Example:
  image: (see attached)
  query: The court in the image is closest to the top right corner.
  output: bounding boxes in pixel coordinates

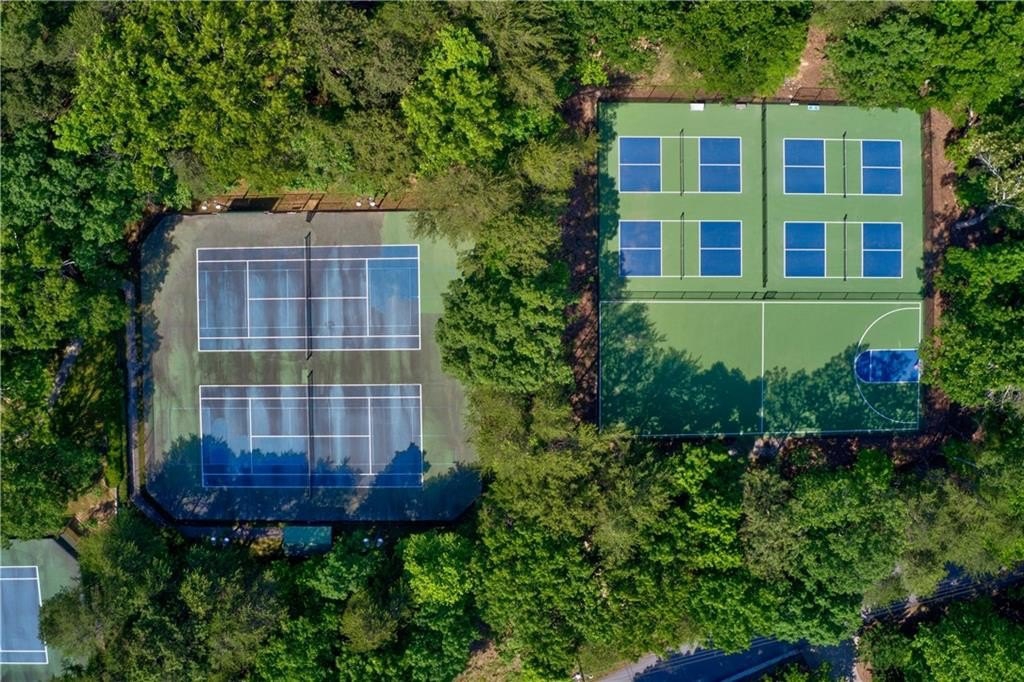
[784,138,901,195]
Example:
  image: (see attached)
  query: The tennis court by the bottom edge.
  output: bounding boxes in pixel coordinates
[0,566,47,664]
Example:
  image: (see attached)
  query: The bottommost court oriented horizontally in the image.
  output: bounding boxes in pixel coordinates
[200,384,423,488]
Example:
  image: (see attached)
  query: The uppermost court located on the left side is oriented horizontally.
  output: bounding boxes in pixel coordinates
[197,245,421,352]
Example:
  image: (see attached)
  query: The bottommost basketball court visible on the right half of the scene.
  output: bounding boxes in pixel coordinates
[598,299,921,436]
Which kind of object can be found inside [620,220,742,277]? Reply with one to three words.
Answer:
sports court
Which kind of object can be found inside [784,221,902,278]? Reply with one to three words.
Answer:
sports court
